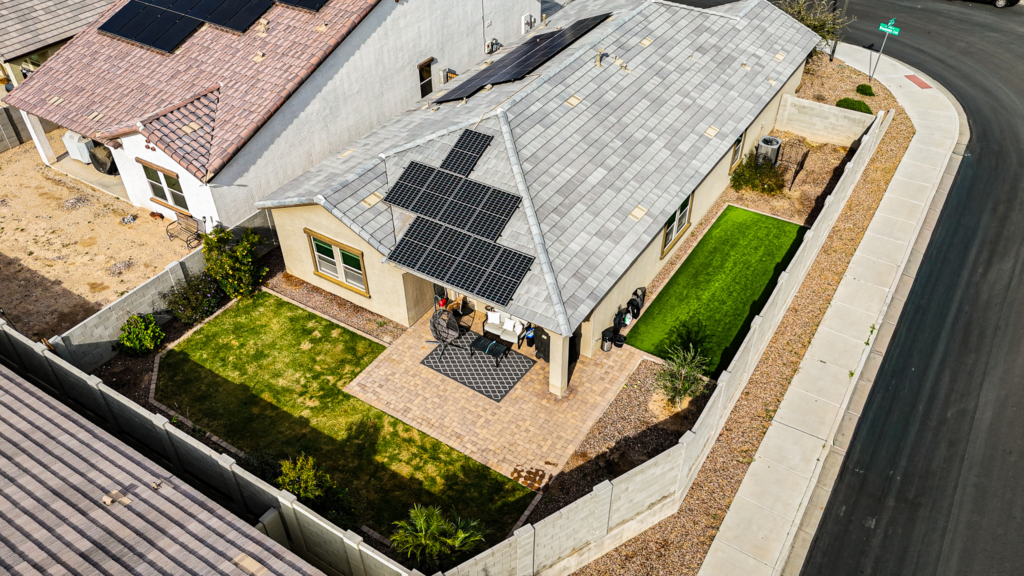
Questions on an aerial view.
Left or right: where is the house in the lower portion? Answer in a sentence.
The house in the lower portion appears in the left half of the scene.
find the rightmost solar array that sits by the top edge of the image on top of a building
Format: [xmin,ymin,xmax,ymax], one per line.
[429,9,617,104]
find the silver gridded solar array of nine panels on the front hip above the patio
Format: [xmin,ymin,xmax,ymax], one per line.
[382,130,535,309]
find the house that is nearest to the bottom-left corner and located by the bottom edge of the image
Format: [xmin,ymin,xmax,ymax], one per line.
[0,363,329,576]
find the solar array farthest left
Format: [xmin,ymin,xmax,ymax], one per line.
[95,0,328,51]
